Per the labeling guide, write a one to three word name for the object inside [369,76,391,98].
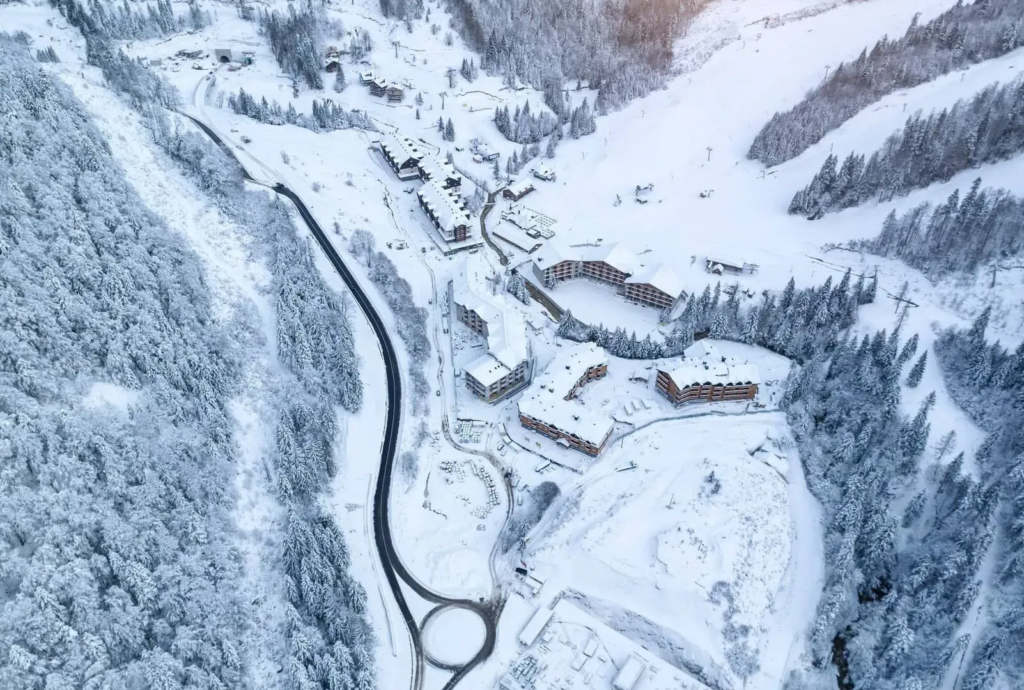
house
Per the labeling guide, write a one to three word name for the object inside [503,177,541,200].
barn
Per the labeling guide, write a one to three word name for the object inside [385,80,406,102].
house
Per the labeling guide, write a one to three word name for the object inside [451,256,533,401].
building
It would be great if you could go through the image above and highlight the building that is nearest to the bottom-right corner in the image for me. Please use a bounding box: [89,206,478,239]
[612,656,646,690]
